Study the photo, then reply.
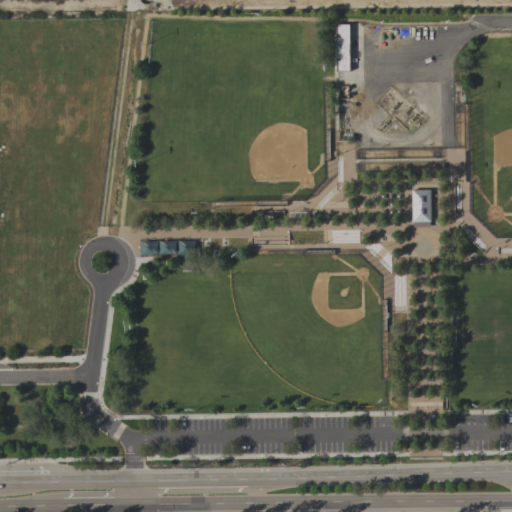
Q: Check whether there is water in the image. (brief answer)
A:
No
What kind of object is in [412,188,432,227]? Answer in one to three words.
building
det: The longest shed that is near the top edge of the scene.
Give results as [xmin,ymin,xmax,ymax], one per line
[338,23,351,70]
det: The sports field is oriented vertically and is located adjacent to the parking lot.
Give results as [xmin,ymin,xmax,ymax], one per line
[447,262,512,410]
